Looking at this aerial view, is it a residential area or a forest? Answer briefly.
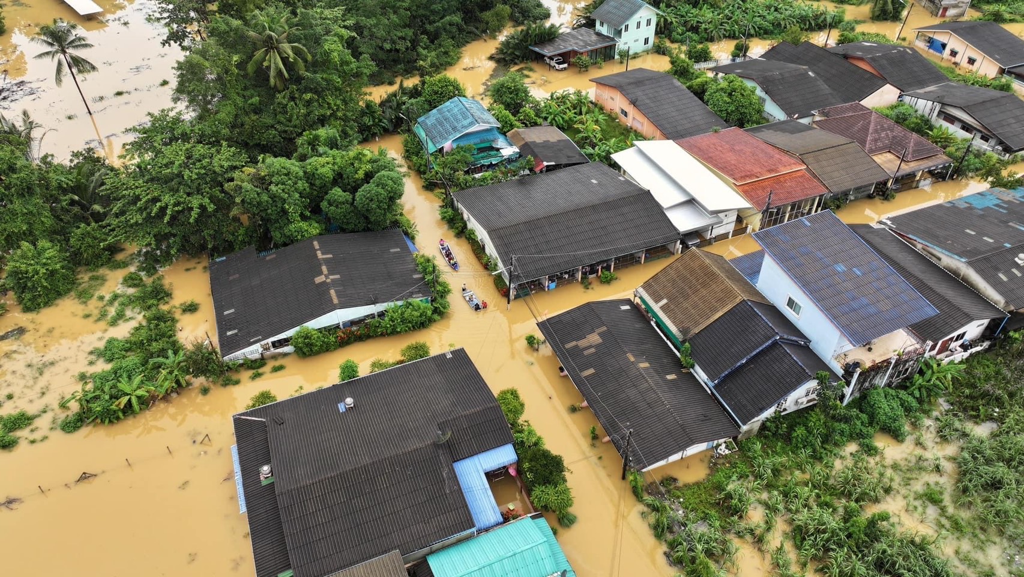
residential area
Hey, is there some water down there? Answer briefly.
Yes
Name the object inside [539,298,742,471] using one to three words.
house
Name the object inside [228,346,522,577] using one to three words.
house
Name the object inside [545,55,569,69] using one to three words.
vehicle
